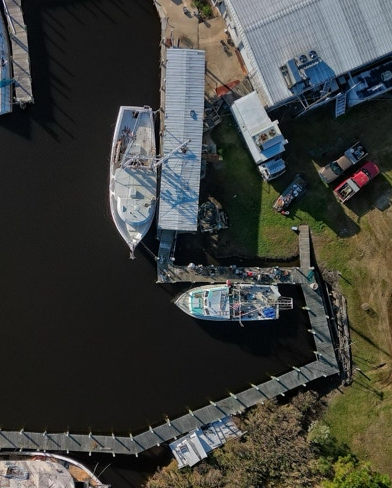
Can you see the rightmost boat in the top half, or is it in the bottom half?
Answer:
top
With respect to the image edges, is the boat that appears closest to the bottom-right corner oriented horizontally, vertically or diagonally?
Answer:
horizontally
